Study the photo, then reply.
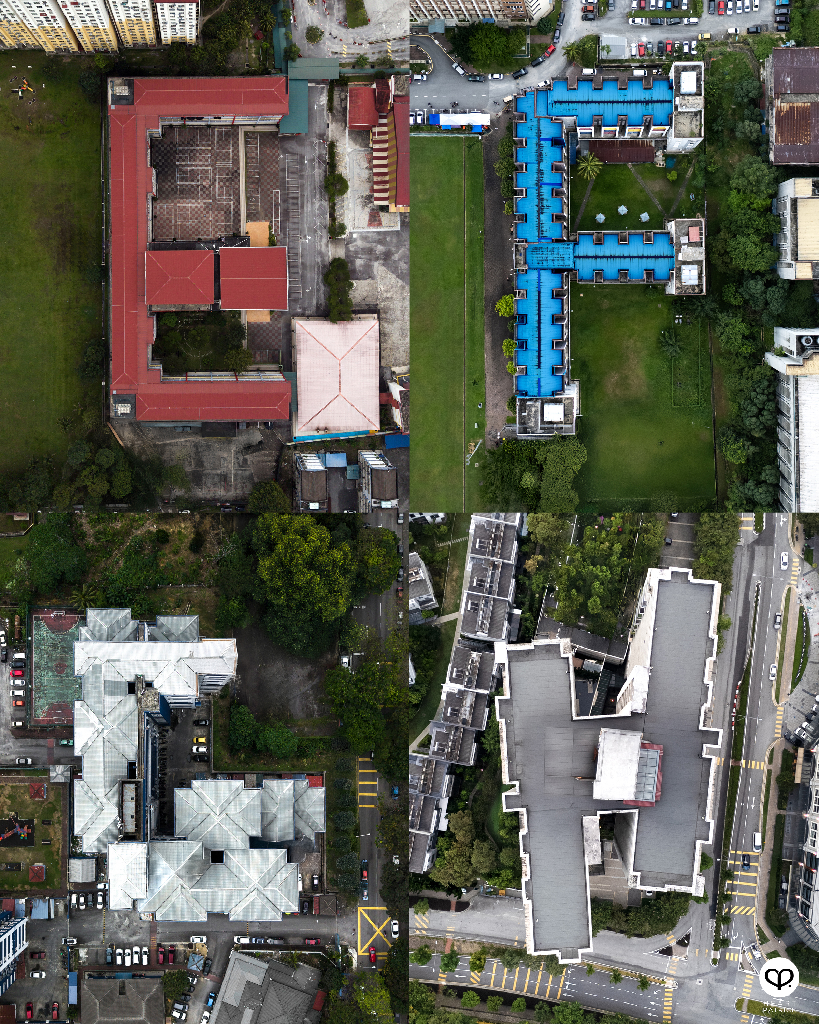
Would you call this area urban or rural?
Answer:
urban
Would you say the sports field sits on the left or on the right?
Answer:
left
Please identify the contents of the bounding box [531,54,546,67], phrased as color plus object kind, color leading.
black vehicle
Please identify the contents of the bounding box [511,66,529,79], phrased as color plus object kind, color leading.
black vehicle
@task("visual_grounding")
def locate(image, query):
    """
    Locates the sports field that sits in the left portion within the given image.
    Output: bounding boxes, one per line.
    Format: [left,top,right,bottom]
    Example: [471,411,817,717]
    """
[0,48,101,512]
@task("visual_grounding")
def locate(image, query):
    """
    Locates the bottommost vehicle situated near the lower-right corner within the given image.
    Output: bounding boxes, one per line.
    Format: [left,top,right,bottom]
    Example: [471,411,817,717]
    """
[751,944,764,963]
